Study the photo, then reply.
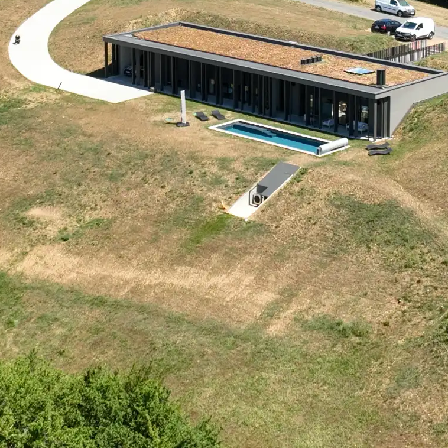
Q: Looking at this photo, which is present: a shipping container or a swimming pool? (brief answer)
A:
swimming pool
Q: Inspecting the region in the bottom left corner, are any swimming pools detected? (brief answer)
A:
No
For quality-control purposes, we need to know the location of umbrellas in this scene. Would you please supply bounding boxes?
[174,92,191,129]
